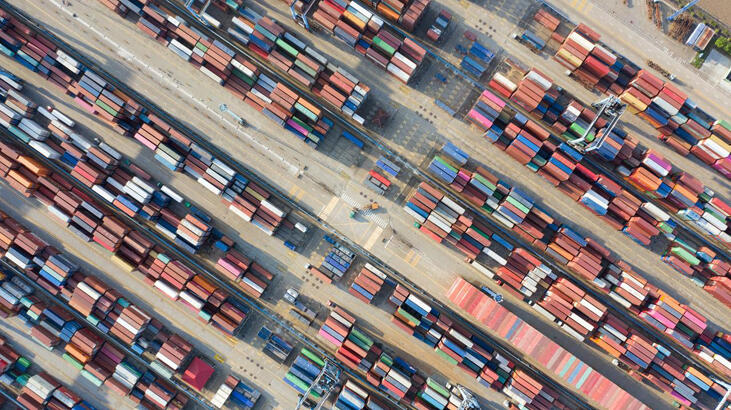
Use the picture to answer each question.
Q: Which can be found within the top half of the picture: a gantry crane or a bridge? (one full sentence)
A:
You can see a gantry crane within the top half of the picture.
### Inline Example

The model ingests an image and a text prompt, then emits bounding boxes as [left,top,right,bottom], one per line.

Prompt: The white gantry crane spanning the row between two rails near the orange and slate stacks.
[561,94,629,156]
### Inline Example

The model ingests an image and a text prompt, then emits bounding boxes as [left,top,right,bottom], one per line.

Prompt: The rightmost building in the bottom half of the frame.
[181,354,218,391]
